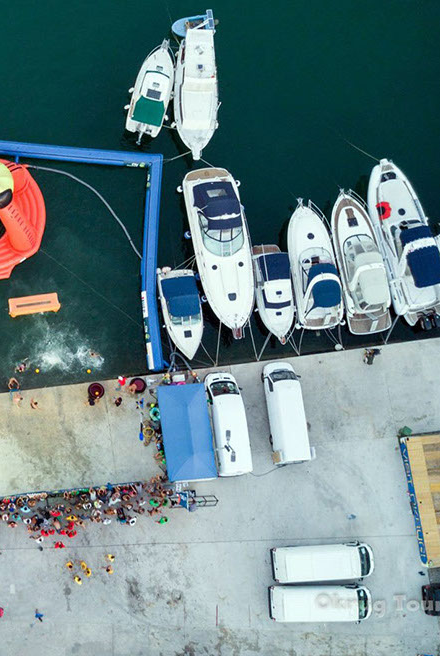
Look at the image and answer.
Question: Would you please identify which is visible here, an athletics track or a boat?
boat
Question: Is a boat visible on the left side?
Yes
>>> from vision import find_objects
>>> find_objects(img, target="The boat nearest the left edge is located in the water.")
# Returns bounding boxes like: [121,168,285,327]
[124,38,179,145]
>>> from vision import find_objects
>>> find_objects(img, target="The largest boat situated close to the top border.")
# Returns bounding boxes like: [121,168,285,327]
[162,10,220,167]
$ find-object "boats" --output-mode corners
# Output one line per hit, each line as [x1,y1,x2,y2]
[330,186,391,340]
[279,192,346,351]
[124,38,179,145]
[162,10,220,167]
[170,170,260,363]
[256,246,301,358]
[158,270,213,366]
[341,147,440,341]
[162,14,218,42]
